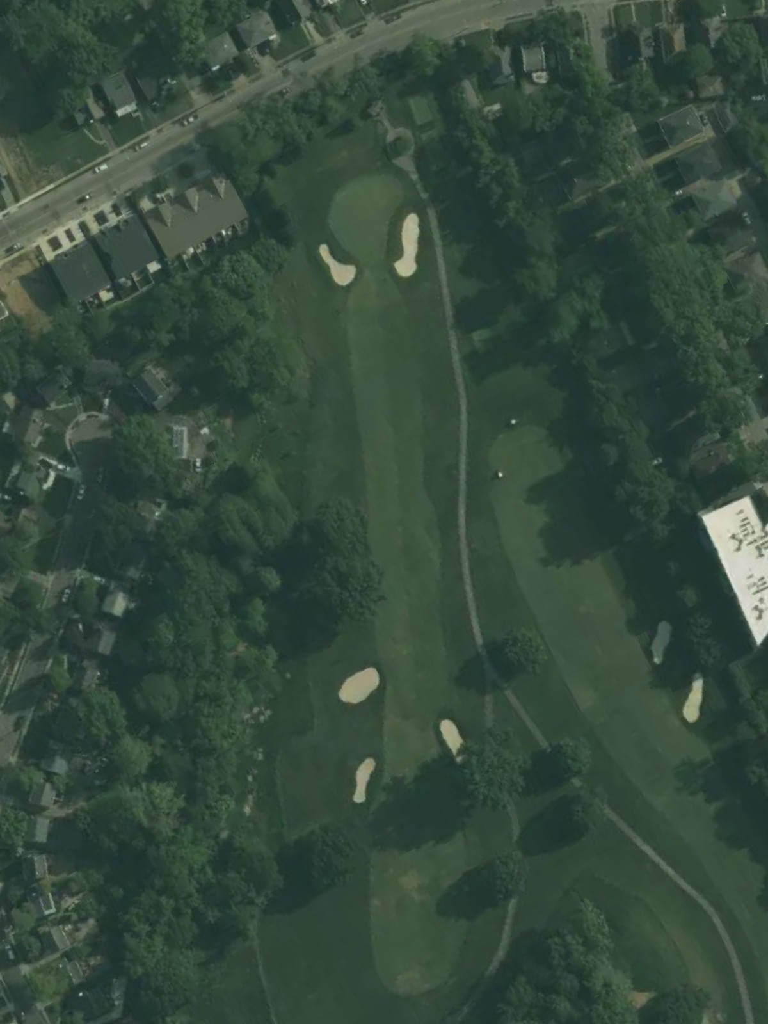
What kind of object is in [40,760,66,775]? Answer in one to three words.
house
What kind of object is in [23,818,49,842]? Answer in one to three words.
house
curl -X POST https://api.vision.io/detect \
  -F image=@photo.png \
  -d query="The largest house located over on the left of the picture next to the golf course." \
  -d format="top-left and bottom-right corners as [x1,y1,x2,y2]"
[145,176,247,259]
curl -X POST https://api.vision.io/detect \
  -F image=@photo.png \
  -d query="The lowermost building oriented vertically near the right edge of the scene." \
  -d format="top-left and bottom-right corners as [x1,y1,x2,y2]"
[699,496,768,646]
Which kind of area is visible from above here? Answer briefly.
golf course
